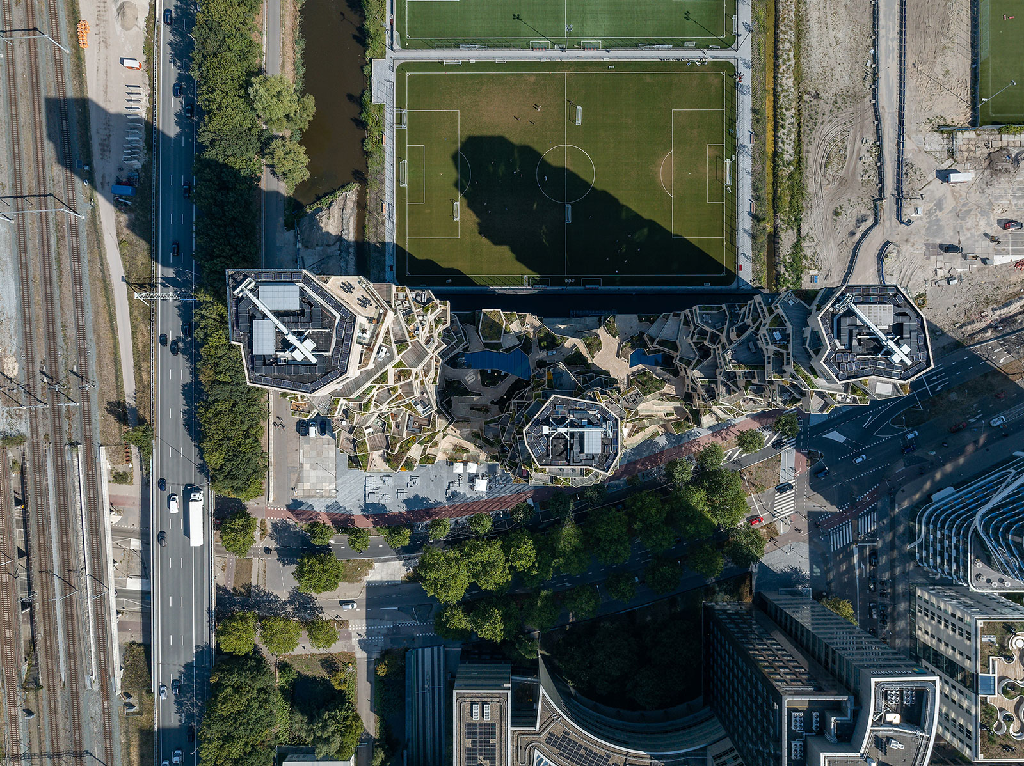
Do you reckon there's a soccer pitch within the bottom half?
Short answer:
No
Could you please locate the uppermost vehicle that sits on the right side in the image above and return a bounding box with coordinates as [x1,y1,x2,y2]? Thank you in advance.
[943,171,974,183]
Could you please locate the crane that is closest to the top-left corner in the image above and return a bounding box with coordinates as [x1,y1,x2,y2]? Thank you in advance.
[231,276,318,363]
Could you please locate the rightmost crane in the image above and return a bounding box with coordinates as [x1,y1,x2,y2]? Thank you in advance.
[834,292,914,366]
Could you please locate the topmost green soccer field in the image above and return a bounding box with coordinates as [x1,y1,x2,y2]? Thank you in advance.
[396,0,736,48]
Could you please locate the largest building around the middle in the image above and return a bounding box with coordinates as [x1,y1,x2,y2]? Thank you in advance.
[225,268,934,486]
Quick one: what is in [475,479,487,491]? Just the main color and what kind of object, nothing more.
white umbrella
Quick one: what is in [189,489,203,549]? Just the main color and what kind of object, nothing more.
white vehicle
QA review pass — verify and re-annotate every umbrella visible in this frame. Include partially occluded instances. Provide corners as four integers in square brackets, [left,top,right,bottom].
[467,463,477,473]
[453,463,463,472]
[475,479,487,491]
